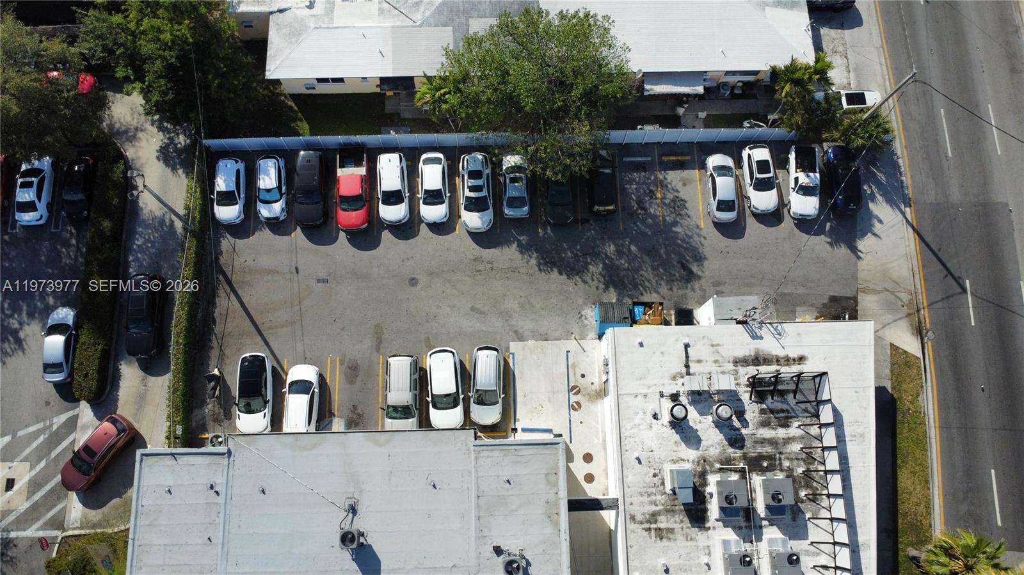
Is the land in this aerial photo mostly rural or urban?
urban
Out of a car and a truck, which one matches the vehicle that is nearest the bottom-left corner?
car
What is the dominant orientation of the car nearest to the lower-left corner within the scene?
diagonally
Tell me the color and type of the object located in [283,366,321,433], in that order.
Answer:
white car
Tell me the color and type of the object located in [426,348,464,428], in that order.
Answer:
white car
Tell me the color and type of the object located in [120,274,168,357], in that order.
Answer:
black car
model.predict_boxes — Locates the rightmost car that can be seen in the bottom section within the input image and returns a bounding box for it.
[468,347,505,426]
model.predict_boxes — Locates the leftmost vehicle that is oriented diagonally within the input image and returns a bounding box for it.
[66,413,139,489]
